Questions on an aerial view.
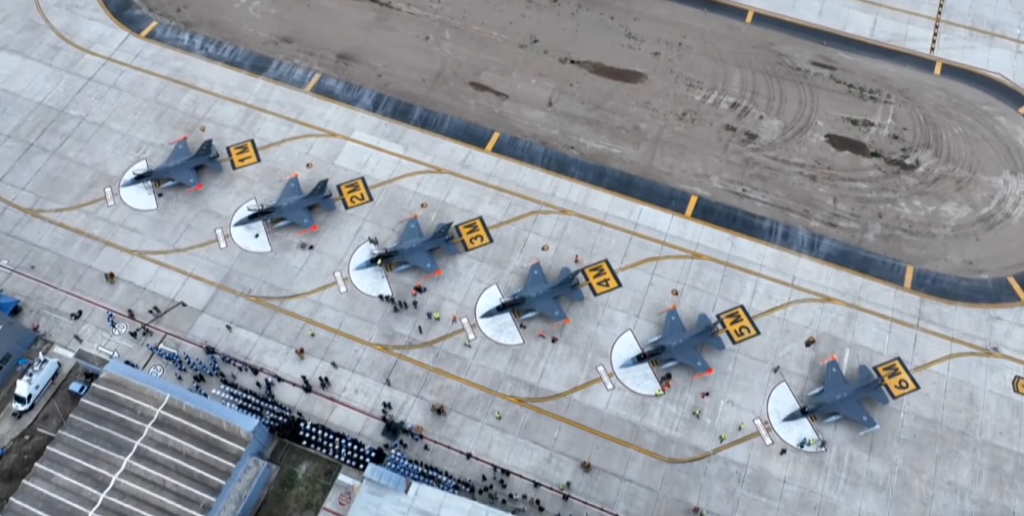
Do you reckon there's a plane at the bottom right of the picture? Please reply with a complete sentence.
Yes, you'll find a plane at the bottom right of the picture.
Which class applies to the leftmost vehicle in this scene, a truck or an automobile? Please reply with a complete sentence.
The leftmost vehicle appears to be a truck.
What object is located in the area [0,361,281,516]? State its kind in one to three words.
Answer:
building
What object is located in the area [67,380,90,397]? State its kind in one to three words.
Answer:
car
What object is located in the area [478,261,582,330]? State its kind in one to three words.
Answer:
airplane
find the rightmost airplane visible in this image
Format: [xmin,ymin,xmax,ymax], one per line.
[778,356,894,434]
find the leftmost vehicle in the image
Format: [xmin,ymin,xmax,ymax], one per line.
[8,355,64,417]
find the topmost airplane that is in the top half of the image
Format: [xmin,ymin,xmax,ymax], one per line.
[120,136,219,193]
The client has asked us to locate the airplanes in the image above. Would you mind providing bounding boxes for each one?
[778,356,894,434]
[352,215,455,280]
[120,136,219,193]
[478,261,582,330]
[232,174,332,234]
[616,306,724,380]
